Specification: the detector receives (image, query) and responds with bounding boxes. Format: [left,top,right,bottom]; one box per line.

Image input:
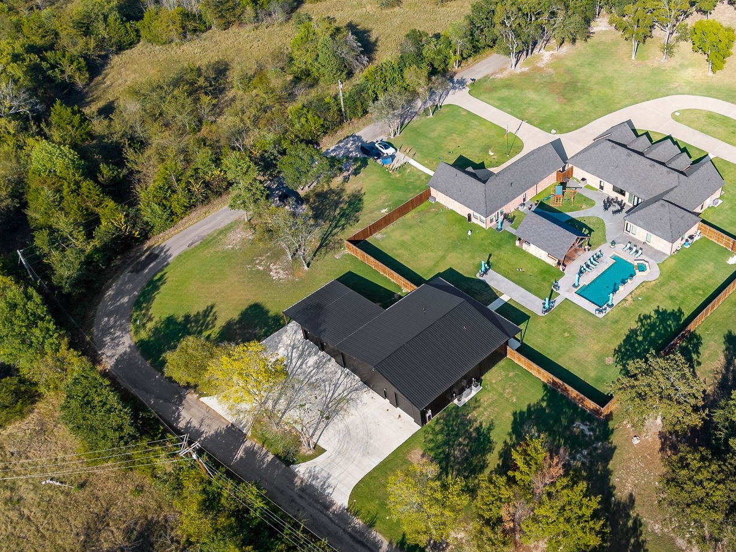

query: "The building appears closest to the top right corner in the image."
[567,123,728,255]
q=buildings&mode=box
[427,143,566,230]
[282,278,526,428]
[567,123,728,255]
[515,211,591,270]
